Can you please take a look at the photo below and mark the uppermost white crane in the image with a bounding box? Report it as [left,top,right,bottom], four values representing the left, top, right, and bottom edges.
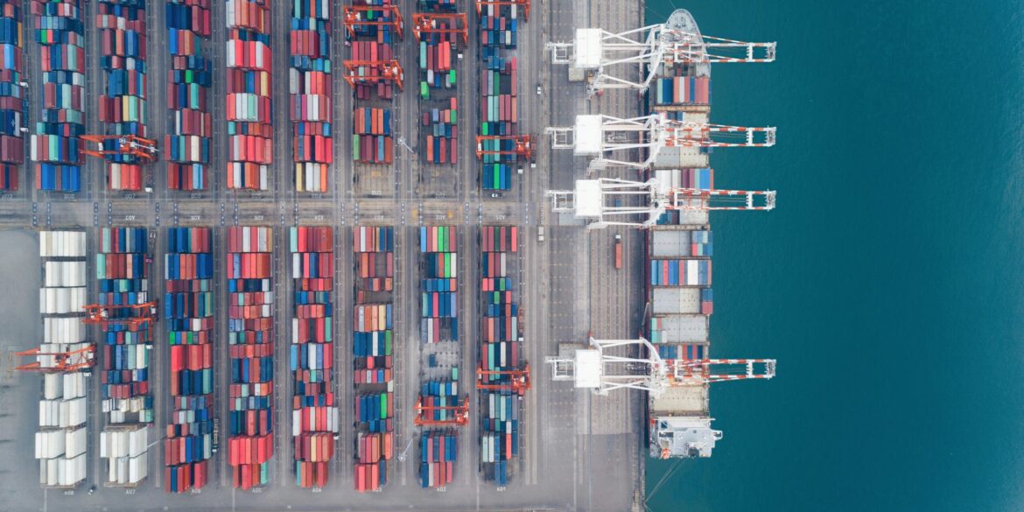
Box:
[546,27,775,101]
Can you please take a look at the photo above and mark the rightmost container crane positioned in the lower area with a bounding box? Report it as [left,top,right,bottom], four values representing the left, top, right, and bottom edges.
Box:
[546,330,775,395]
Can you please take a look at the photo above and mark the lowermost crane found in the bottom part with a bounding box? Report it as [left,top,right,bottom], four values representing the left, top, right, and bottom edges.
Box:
[411,391,469,425]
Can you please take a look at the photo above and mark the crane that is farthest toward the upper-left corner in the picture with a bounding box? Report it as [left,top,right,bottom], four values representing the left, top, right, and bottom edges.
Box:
[80,132,158,165]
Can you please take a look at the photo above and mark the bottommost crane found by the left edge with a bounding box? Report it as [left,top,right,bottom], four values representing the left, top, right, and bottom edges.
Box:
[14,340,97,372]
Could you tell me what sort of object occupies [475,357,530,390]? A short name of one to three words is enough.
container crane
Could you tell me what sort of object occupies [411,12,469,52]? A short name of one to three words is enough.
container crane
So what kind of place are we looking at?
port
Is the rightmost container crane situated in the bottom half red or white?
white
